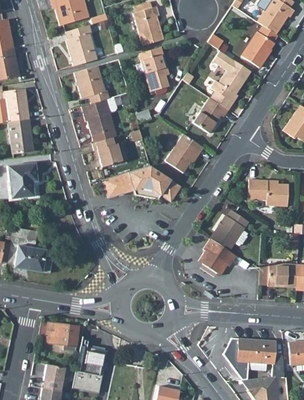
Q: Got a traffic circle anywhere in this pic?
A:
Yes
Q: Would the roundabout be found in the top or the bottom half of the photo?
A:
bottom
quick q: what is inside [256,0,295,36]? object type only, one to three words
house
